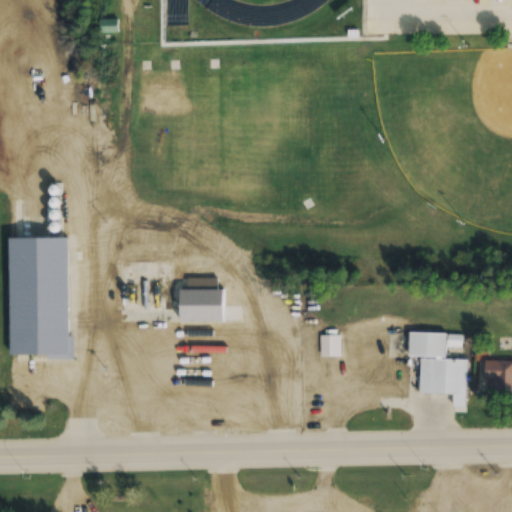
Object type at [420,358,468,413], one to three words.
house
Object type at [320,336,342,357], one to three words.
shed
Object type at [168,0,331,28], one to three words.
running track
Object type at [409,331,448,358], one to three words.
building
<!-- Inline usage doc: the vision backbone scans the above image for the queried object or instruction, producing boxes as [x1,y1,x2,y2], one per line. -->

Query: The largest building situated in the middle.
[178,278,225,322]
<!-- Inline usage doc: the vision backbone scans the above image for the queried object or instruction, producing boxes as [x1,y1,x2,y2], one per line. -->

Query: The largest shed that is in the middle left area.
[9,238,78,358]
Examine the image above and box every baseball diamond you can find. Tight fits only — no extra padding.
[375,50,512,234]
